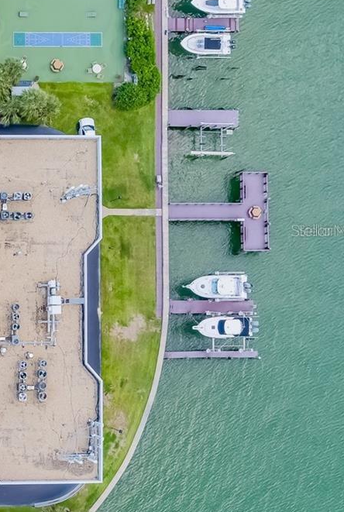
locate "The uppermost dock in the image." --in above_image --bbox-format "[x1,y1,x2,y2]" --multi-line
[168,15,239,35]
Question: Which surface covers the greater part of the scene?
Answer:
water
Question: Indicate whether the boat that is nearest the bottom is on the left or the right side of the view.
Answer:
right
